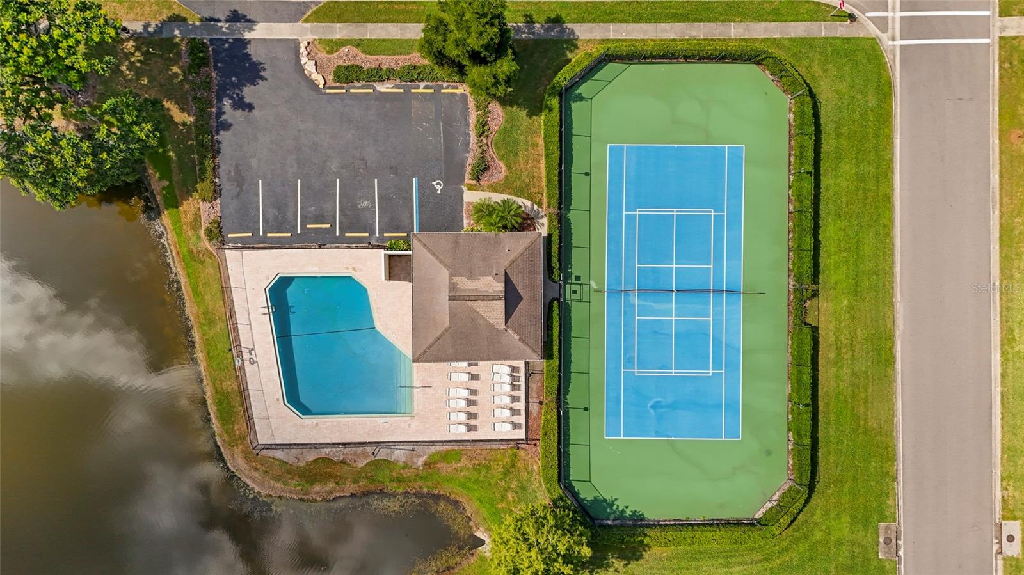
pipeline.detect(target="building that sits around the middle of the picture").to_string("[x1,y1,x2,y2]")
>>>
[411,231,544,364]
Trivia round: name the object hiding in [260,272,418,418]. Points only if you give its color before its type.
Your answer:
blue swimming pool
